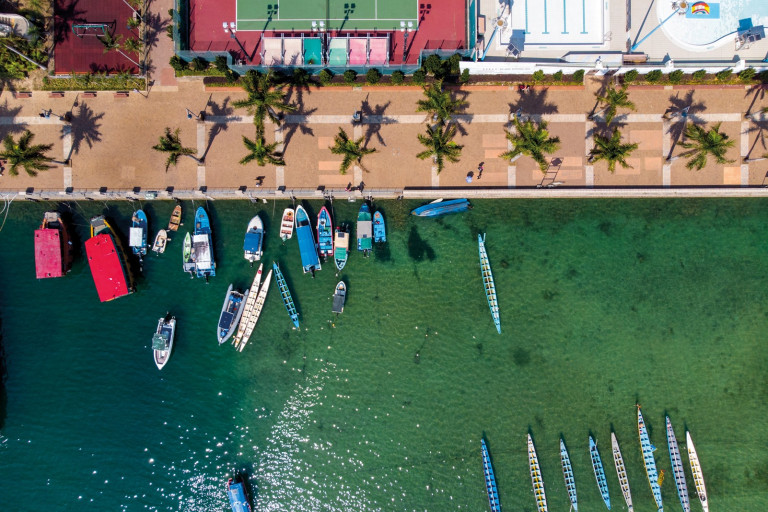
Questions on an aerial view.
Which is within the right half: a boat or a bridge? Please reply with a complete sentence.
Looking within the right half, you will find a boat.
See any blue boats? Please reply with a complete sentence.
Yes, looking at the shot, I can spot a blue boat.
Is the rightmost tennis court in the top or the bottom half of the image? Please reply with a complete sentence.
The rightmost tennis court sits in the top half of the picture.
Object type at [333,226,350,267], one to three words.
boat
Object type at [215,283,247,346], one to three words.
boat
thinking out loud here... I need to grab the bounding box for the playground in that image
[49,0,145,77]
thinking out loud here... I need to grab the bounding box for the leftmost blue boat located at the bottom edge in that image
[228,472,252,512]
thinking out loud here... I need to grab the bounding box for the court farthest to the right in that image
[180,0,469,68]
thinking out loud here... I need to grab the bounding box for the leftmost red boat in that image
[35,208,75,280]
